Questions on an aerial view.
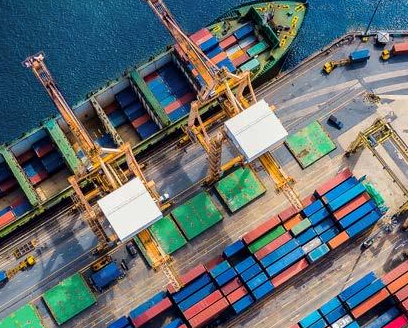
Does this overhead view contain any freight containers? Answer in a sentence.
Yes, I can see a freight container in this picture.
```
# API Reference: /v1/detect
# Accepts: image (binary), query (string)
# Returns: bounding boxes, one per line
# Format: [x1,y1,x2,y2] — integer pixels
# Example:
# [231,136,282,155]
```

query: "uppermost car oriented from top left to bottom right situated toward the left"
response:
[124,239,139,257]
